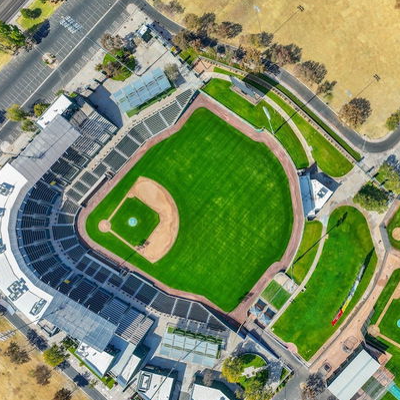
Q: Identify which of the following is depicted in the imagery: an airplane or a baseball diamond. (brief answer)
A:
baseball diamond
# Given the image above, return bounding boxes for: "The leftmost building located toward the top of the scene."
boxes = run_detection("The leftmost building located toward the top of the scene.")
[37,95,95,129]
